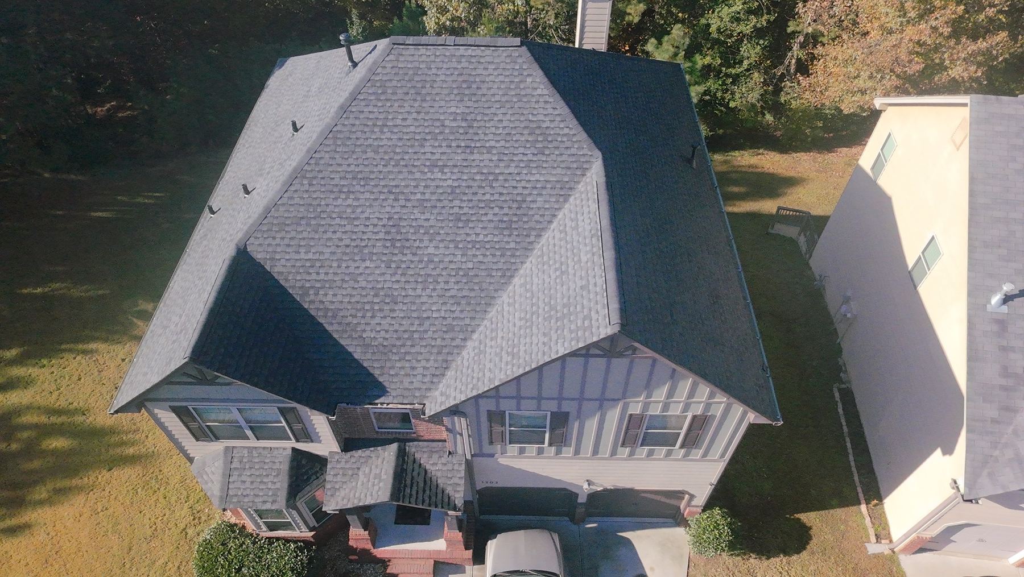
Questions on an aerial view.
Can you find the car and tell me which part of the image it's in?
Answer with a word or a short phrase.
bottom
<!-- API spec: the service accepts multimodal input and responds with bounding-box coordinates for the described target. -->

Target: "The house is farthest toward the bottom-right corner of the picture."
[811,100,1024,577]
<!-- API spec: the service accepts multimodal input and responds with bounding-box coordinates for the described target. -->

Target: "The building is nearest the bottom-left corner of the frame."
[107,0,785,577]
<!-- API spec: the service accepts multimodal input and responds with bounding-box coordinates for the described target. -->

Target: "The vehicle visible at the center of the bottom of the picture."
[485,530,560,577]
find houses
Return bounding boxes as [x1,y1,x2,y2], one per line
[811,100,1024,577]
[107,0,785,577]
